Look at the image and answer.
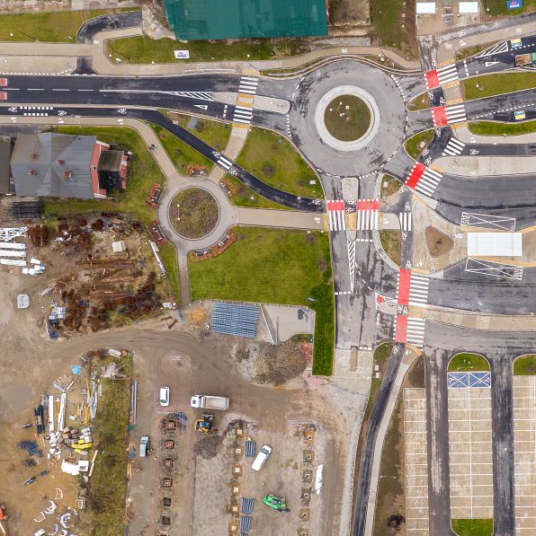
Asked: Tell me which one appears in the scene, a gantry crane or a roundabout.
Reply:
roundabout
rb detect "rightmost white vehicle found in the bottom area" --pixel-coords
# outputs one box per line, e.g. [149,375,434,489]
[252,446,271,471]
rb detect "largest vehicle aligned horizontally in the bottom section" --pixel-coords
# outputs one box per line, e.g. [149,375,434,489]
[188,395,230,410]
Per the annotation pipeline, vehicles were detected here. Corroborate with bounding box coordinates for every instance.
[262,496,292,514]
[138,435,151,458]
[252,446,271,471]
[194,410,212,441]
[159,386,171,405]
[188,395,230,410]
[513,51,536,66]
